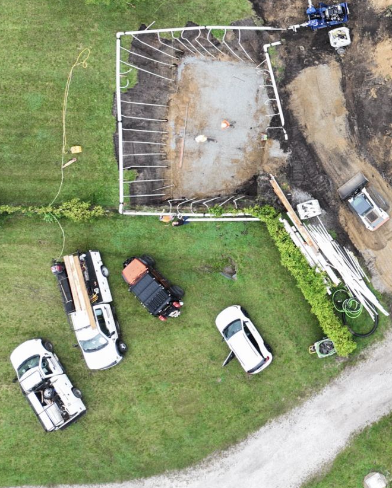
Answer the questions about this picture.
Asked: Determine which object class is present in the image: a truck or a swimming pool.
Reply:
truck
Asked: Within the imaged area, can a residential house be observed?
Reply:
No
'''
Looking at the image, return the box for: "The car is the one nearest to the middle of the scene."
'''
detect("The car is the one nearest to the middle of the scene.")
[117,248,192,324]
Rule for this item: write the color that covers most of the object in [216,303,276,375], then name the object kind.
white car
